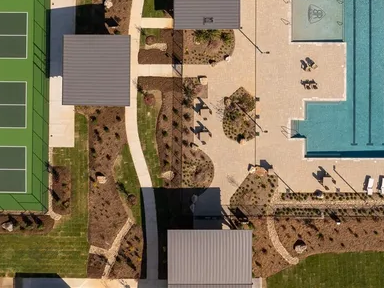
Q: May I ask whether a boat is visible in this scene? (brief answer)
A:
No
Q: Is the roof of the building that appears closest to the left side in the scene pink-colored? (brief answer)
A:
No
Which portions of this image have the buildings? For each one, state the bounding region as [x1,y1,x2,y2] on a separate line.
[168,229,253,288]
[174,0,241,29]
[63,35,131,106]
